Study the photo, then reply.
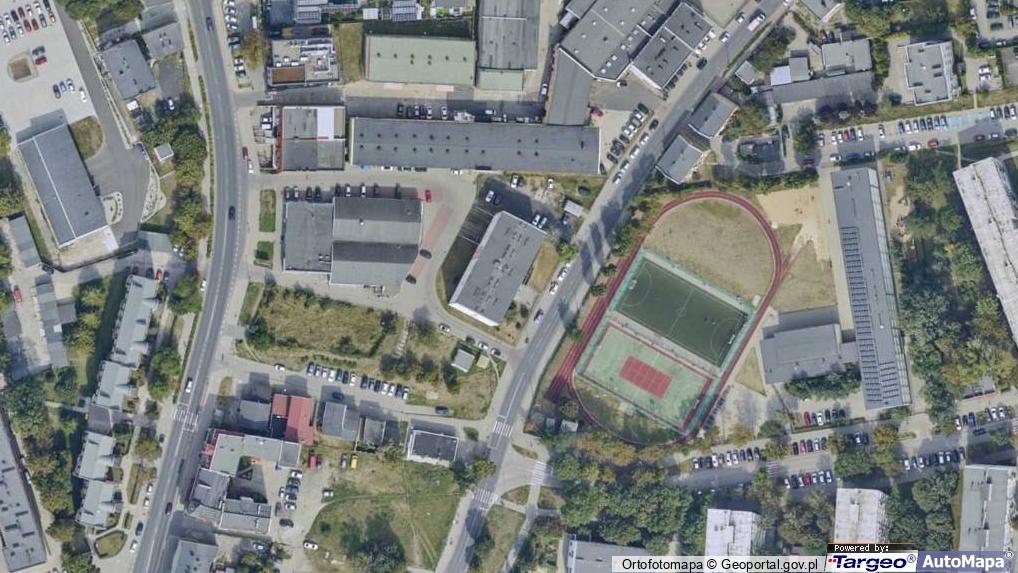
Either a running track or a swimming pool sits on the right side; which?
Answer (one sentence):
There is a running track on the right side.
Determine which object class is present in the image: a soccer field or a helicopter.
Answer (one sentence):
Visible in the photo is a soccer field.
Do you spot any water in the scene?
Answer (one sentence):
No, there's no water in this view.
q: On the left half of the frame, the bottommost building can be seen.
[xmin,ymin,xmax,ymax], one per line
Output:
[172,540,219,573]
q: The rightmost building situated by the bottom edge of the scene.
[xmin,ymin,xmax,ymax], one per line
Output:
[956,465,1017,573]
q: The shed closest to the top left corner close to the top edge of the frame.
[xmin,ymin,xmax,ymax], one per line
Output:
[99,22,138,48]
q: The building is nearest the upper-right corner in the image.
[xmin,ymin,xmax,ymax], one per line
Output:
[904,42,958,105]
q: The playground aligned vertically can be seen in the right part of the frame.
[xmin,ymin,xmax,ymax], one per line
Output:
[888,175,911,236]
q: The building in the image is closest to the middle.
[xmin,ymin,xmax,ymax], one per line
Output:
[447,211,545,329]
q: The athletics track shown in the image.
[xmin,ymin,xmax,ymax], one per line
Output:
[546,190,804,446]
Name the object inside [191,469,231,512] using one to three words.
house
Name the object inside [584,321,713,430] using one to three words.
sports court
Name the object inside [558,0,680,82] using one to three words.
building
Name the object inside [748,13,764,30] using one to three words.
vehicle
